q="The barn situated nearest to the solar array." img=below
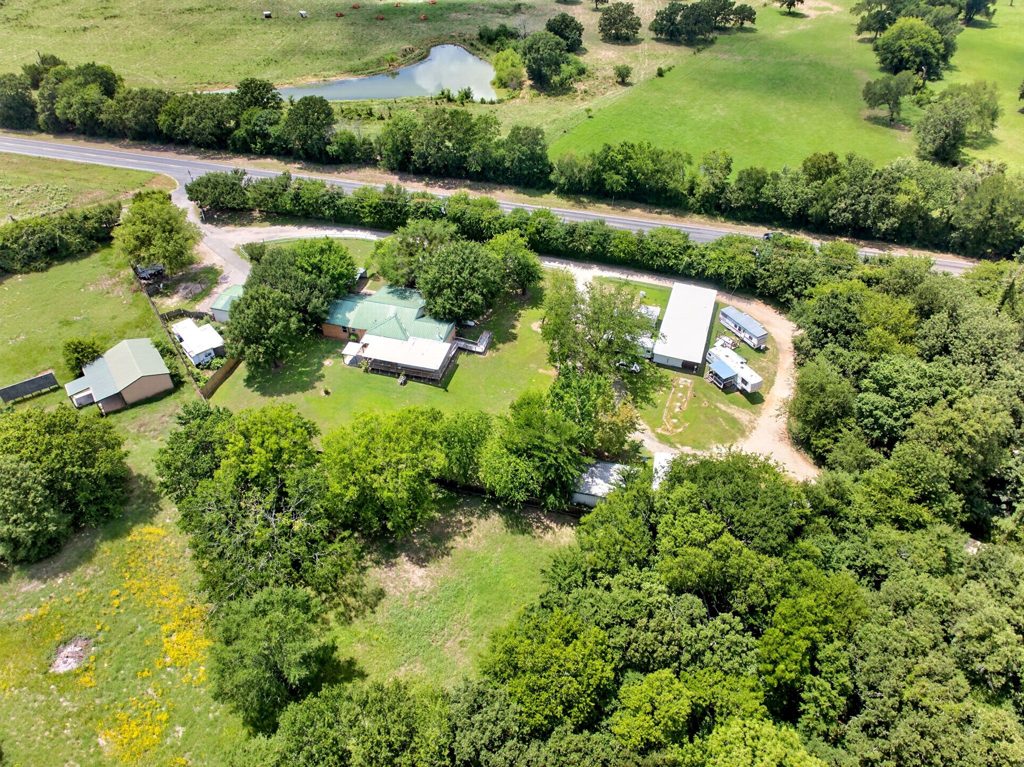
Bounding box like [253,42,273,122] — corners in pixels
[65,339,174,413]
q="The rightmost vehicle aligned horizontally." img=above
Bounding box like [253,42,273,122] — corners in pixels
[762,233,791,246]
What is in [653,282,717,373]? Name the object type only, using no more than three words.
shed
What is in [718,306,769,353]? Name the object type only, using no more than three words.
vehicle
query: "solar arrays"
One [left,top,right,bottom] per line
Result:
[0,369,62,403]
